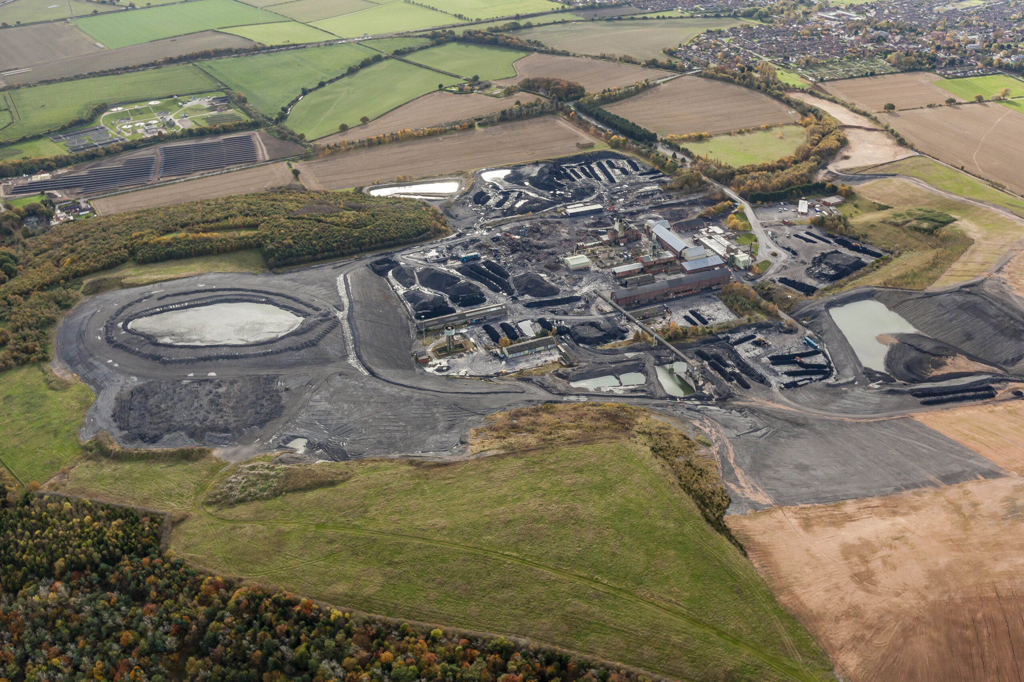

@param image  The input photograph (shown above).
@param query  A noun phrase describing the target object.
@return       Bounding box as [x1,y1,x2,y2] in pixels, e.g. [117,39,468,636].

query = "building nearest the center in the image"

[505,338,557,358]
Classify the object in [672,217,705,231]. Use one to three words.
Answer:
building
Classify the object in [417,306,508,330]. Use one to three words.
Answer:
shed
